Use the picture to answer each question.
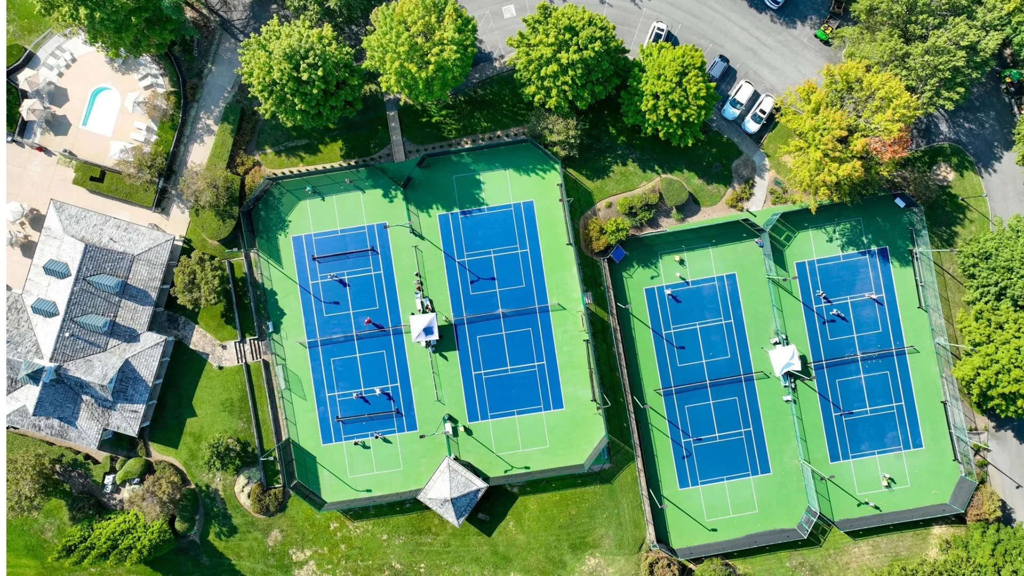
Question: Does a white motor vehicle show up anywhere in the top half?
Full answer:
Yes, a white motor vehicle can be seen in the top half.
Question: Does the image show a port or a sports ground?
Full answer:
What you see here is a sports ground.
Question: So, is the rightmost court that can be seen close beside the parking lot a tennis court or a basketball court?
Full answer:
It looks like the rightmost court that can be seen close beside the parking lot is a tennis court.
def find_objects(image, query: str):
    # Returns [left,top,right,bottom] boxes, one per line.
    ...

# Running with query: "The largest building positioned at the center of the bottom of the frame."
[417,451,489,528]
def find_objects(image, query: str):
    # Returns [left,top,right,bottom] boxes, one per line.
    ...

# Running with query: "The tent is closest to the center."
[410,312,440,342]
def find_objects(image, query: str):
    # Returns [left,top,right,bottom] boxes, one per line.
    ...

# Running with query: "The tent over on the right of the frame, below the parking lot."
[762,343,801,376]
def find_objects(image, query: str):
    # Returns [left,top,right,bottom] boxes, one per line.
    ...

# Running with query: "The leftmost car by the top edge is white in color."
[636,17,667,61]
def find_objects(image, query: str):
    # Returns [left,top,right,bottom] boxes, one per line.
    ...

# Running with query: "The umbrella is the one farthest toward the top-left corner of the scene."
[19,69,43,93]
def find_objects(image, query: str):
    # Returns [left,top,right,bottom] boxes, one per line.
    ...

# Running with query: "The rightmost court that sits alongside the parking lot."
[763,192,961,522]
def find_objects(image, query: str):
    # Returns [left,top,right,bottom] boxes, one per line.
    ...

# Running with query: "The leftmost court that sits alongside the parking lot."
[252,162,449,501]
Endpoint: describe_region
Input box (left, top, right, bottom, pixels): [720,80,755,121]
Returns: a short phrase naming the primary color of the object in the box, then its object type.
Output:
white car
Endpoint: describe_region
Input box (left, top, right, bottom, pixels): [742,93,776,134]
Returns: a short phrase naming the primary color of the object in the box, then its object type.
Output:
white car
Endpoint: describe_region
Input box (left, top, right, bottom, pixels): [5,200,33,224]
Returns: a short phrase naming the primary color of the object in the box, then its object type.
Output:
white umbrella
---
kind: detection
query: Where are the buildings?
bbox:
[0,198,190,451]
[417,451,489,528]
